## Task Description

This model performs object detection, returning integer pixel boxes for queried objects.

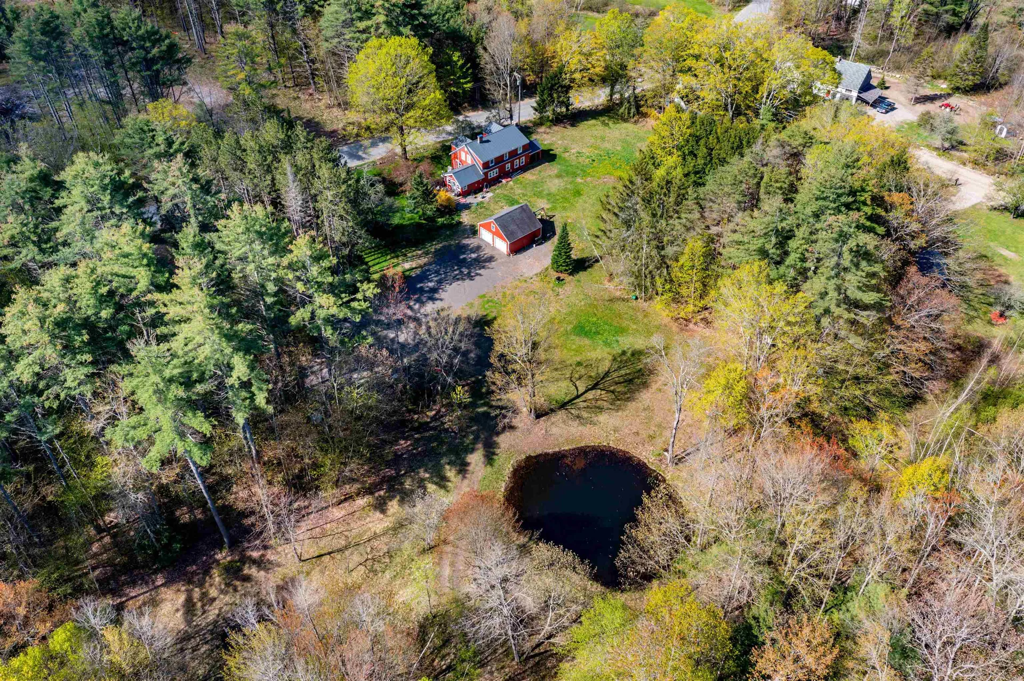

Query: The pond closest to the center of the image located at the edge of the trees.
[501,446,681,593]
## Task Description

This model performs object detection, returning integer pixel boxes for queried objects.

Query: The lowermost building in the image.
[477,202,542,255]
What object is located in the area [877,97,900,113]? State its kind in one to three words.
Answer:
vehicle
